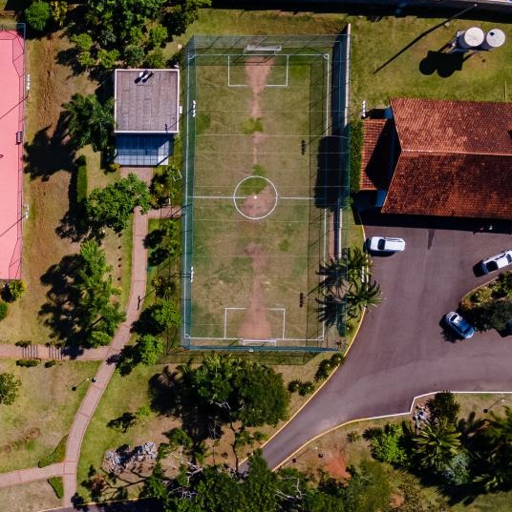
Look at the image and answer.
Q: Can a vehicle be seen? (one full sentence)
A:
Yes, the frame does contain a vehicle.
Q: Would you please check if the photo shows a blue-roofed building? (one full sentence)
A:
No, I can't see a single blue-roofed building in this photo.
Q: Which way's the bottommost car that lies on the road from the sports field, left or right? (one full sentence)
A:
Looking at the picture, you'll find the bottommost car that lies on the road to the right of the sports field.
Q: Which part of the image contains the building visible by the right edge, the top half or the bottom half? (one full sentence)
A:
It is in the top half that the building visible by the right edge appears.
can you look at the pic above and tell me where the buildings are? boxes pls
[356,98,512,221]
[110,69,179,165]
